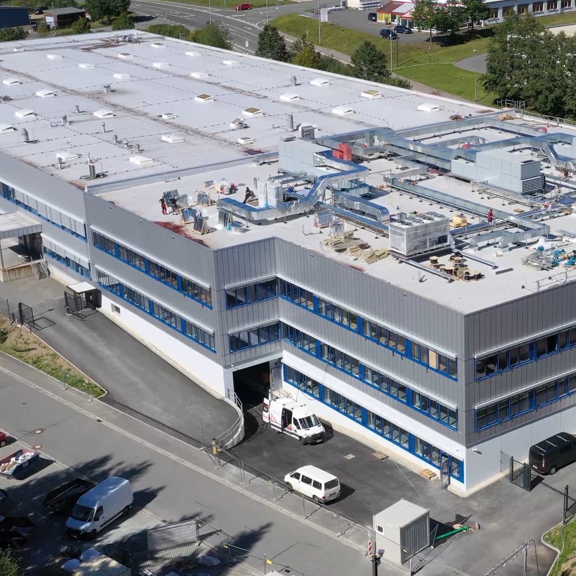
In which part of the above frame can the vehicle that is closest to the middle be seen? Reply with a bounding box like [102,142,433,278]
[255,396,326,444]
